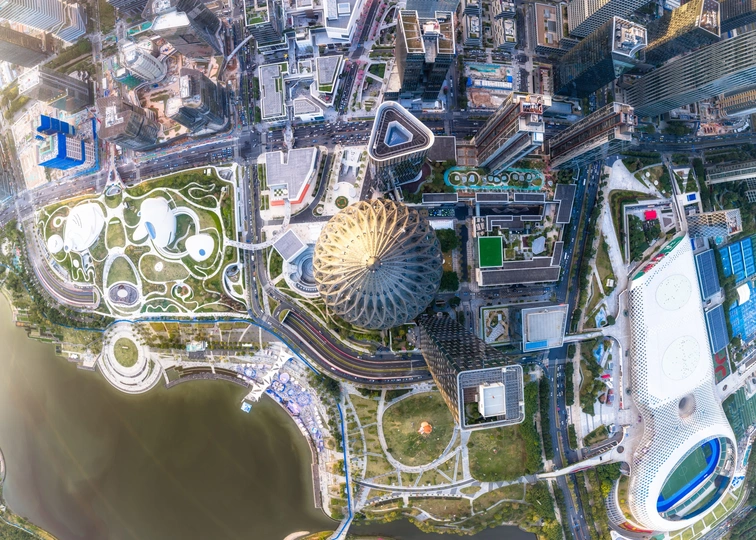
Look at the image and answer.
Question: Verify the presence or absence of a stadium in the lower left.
No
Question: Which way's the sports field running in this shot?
diagonally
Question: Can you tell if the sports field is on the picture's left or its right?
right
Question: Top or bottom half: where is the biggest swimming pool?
top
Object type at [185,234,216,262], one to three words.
building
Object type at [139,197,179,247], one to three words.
building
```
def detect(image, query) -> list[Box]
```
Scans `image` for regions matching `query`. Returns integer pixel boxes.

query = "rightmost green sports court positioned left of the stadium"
[481,238,502,267]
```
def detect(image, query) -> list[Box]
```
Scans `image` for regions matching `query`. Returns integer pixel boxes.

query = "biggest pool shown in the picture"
[443,165,546,192]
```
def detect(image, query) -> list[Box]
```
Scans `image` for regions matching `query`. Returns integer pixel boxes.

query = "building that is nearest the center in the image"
[313,205,441,332]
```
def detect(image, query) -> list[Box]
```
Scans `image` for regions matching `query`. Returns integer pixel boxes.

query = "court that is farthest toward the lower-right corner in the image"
[713,346,733,386]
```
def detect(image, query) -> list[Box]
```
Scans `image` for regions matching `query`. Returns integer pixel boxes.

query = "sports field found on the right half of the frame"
[663,447,718,502]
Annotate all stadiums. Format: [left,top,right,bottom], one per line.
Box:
[608,235,741,538]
